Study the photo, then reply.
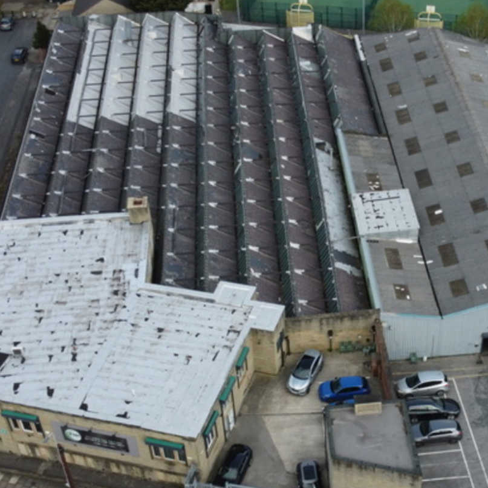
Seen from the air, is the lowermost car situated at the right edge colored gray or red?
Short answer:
gray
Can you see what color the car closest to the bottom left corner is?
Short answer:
black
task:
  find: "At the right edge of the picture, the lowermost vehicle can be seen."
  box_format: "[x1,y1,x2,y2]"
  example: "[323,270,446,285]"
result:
[413,423,466,453]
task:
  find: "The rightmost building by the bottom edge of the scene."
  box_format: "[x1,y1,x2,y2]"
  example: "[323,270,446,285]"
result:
[324,399,423,488]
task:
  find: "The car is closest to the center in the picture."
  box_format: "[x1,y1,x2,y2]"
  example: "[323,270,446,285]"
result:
[286,347,324,392]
